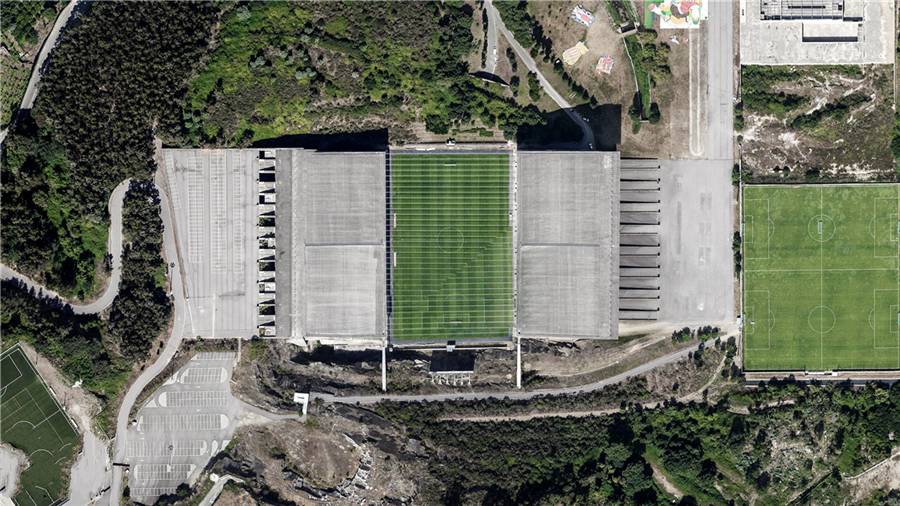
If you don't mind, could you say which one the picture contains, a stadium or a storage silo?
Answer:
stadium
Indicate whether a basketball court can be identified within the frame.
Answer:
No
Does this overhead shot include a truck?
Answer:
No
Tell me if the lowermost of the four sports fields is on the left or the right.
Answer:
left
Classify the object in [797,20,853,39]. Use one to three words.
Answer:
building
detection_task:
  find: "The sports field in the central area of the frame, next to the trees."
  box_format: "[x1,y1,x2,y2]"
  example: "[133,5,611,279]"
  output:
[393,152,509,340]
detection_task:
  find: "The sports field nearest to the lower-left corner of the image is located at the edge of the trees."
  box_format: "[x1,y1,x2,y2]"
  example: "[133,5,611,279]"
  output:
[0,345,80,506]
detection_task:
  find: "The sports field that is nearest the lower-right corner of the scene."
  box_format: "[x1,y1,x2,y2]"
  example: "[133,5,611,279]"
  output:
[744,269,900,371]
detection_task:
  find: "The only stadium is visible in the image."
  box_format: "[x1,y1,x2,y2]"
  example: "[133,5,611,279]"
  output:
[254,147,661,391]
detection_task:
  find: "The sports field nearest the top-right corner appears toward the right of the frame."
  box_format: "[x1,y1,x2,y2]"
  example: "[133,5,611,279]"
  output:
[743,184,900,270]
